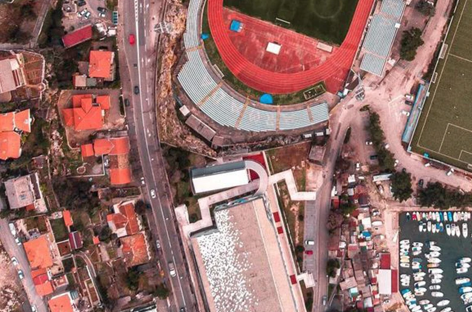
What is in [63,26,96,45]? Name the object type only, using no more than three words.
house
